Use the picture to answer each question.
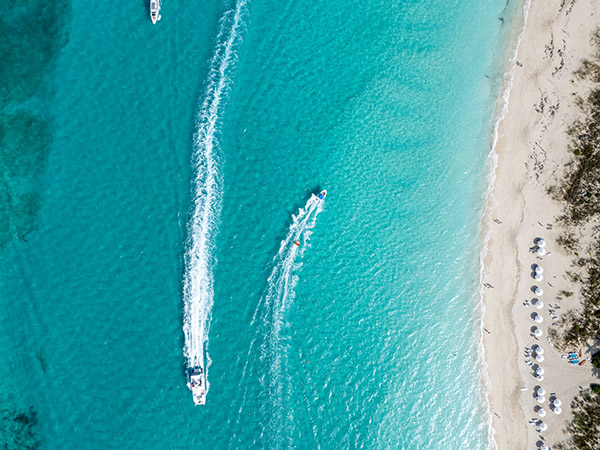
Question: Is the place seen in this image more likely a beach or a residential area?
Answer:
beach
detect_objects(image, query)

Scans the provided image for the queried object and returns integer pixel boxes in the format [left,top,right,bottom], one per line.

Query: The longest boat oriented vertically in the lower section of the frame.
[190,369,205,408]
